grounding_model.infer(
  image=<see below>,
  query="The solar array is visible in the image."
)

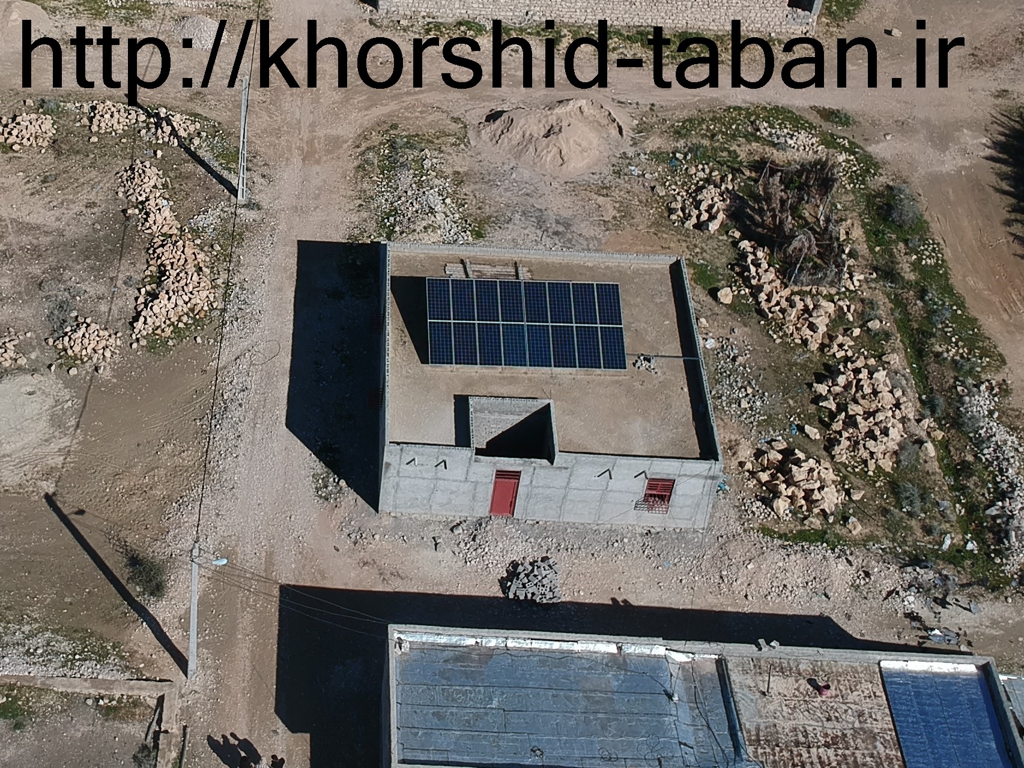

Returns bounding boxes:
[427,276,627,372]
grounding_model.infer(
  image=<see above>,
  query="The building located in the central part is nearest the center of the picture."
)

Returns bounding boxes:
[374,241,724,531]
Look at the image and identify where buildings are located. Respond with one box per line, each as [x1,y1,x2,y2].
[374,241,724,531]
[377,0,823,34]
[381,624,1018,768]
